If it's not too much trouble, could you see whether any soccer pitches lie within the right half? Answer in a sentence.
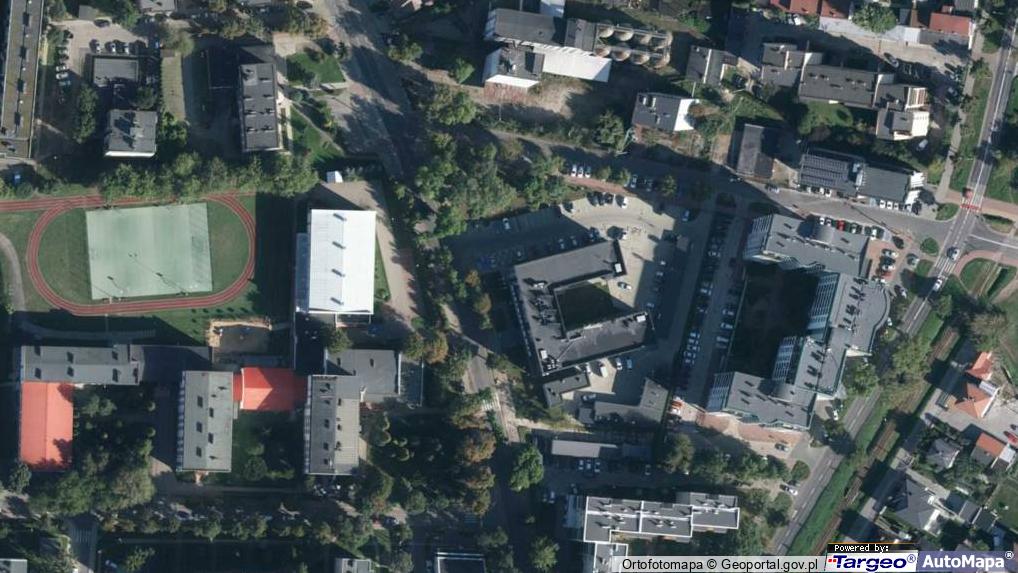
No, there is no soccer pitch within the right half.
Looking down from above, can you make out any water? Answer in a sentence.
No, there is no water in the image.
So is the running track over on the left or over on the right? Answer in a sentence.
It is on the left.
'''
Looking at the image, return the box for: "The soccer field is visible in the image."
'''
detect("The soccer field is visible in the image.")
[86,203,213,299]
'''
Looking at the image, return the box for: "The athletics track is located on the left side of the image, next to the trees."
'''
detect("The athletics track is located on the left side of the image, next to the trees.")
[0,190,257,315]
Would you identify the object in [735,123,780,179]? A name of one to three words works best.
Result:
shed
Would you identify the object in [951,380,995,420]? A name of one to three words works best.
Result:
house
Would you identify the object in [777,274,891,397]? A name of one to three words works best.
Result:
building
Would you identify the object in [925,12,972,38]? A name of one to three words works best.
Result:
house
